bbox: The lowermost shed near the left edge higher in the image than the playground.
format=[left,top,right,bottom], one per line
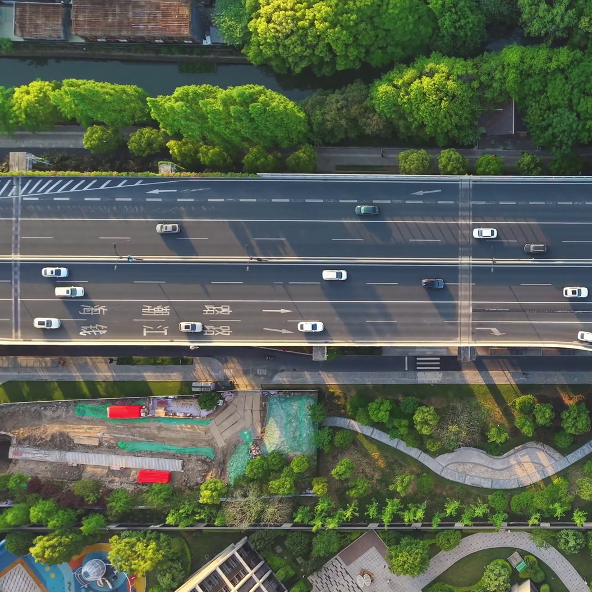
[9,445,187,471]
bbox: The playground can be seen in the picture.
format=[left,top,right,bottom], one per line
[0,538,148,592]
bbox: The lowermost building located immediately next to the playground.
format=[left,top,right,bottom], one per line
[184,537,290,592]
